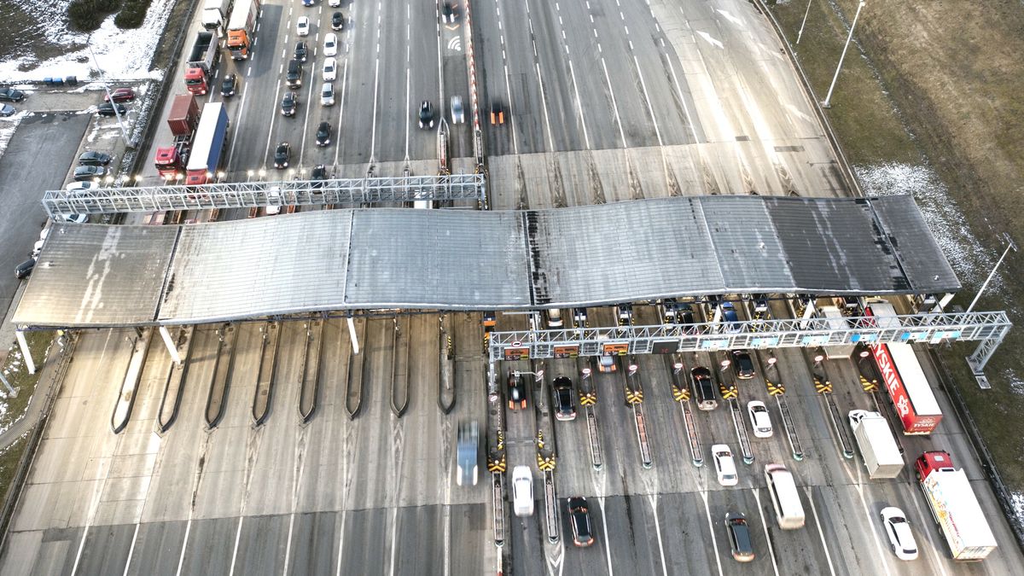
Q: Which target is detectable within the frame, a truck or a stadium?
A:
truck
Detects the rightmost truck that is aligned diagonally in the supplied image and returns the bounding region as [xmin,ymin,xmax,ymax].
[902,451,1001,571]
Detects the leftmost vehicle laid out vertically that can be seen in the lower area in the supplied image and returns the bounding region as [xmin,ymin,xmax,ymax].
[452,423,482,484]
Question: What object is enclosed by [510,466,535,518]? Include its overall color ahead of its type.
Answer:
white car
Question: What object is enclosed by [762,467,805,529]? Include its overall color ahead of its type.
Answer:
white van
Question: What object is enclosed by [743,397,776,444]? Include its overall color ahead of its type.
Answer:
white car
